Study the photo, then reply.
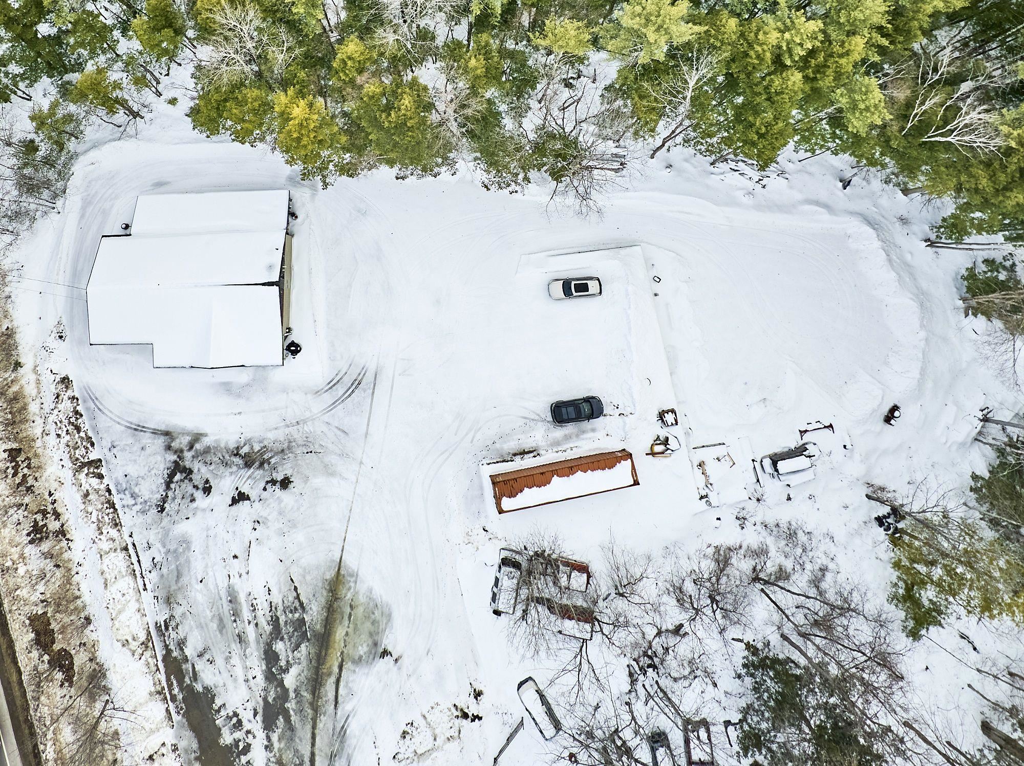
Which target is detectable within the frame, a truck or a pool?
truck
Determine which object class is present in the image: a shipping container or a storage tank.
shipping container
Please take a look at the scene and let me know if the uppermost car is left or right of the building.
right of it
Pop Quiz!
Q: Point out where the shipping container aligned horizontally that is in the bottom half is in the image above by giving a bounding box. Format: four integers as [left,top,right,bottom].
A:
[492,450,638,514]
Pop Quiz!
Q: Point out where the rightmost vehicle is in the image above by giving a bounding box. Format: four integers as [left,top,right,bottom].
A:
[759,441,825,488]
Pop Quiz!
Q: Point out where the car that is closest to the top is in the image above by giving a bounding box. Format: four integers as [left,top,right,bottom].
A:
[546,275,604,301]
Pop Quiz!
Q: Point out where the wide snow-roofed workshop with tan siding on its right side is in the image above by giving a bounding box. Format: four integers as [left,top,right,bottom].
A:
[86,190,294,370]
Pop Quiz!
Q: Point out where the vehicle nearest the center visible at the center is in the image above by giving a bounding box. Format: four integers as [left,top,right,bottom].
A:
[548,396,605,424]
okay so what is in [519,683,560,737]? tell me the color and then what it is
white car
